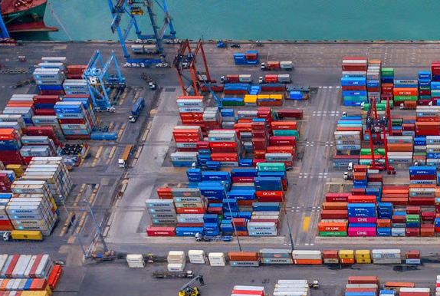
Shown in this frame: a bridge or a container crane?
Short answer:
container crane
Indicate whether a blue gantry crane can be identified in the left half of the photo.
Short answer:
Yes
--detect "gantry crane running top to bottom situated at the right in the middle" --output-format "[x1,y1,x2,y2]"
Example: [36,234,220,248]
[366,91,398,168]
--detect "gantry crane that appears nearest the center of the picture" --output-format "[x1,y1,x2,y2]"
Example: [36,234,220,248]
[170,36,213,96]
